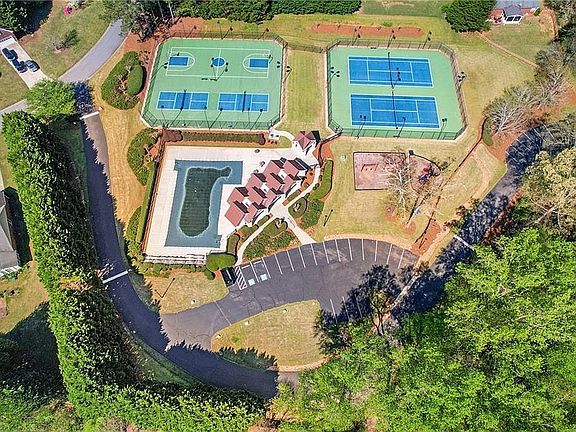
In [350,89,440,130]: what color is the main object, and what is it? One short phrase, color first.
blue tennis court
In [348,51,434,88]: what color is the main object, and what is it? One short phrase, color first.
blue tennis court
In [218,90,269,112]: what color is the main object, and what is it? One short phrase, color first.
blue sports court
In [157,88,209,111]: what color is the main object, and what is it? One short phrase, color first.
blue sports court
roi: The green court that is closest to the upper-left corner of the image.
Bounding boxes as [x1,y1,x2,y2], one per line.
[138,37,286,132]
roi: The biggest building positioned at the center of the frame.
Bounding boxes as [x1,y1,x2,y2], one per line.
[225,158,309,229]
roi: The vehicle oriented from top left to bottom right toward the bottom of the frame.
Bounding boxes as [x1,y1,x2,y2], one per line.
[220,266,238,287]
